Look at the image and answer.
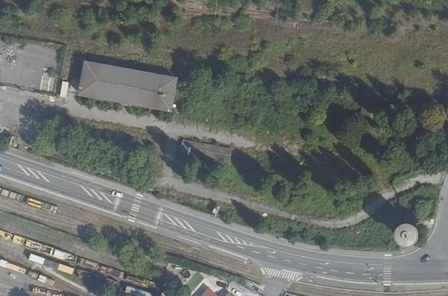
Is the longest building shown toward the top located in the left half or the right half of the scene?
left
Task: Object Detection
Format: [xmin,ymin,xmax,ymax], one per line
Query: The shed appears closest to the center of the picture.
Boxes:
[182,139,232,161]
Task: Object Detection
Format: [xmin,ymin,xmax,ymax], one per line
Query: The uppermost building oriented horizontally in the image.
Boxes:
[77,60,177,111]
